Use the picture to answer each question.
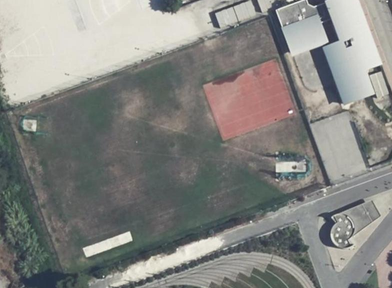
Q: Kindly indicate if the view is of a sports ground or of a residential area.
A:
sports ground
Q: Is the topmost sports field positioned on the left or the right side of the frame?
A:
left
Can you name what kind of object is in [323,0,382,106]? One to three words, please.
building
